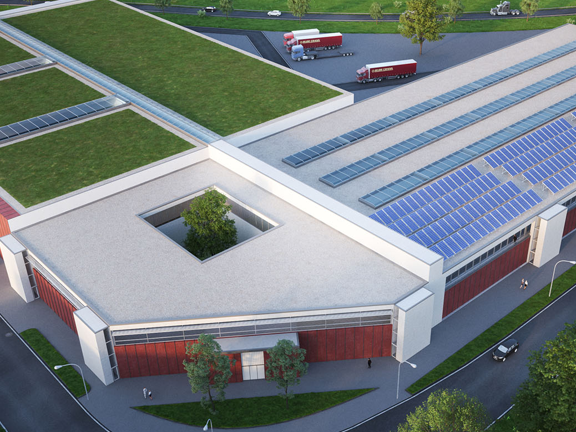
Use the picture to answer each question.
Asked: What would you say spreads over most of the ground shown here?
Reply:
buildings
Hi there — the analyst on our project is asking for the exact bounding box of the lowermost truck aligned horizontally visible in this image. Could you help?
[354,59,414,84]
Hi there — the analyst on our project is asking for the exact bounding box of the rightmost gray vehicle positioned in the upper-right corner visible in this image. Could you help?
[490,0,519,15]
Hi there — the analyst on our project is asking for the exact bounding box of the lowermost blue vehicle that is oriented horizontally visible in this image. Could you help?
[293,45,351,60]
